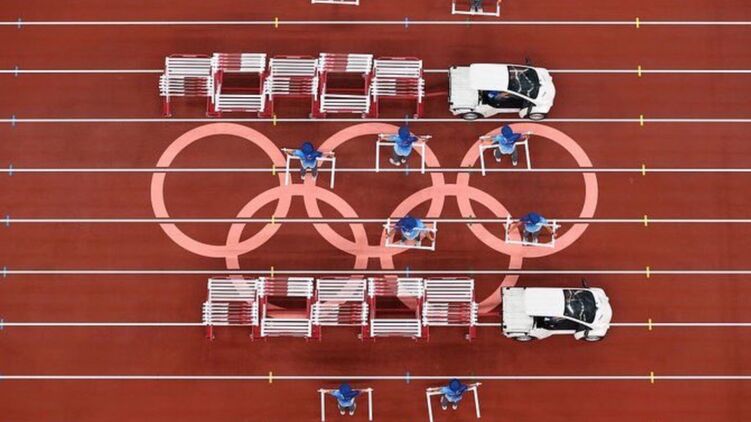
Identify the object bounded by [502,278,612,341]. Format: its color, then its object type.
white car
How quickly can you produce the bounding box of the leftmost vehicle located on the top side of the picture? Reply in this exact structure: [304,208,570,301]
[448,56,555,119]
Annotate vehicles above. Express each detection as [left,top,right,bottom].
[502,278,612,341]
[448,56,555,119]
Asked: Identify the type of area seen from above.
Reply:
sports ground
